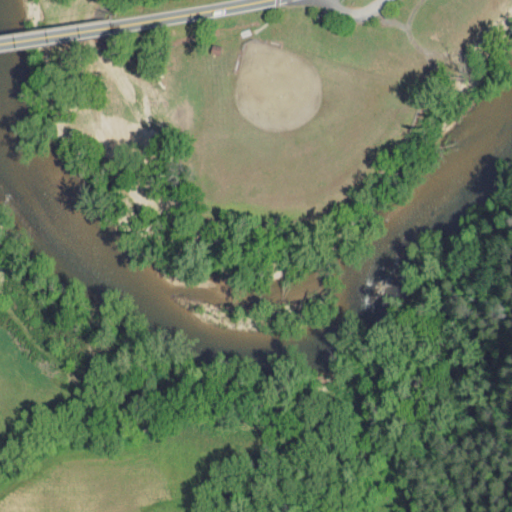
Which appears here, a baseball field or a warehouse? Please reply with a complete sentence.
Of the two, only a baseball field appears.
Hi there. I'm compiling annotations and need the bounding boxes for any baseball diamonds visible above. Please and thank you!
[235,38,322,131]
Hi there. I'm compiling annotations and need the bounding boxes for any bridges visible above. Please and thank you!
[0,16,116,53]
